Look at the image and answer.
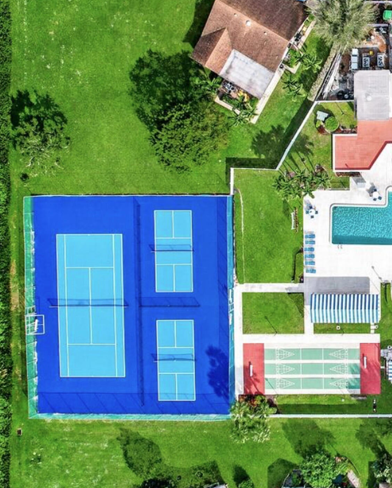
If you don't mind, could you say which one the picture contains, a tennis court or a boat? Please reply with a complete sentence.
Of the two, only a tennis court appears.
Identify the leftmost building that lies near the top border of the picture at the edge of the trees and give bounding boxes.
[190,0,309,102]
